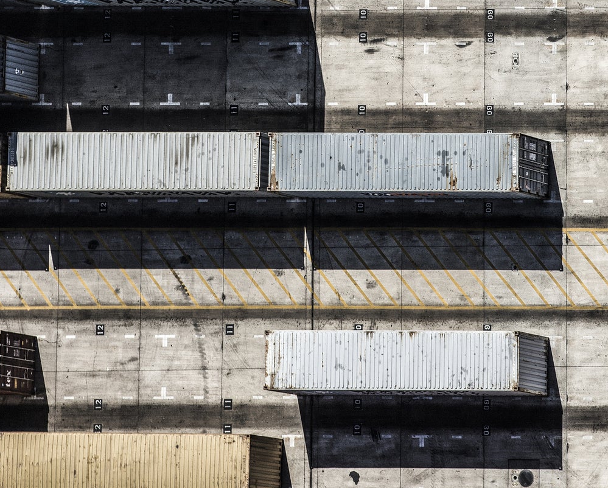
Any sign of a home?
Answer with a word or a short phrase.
No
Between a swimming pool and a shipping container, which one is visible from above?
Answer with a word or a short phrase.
shipping container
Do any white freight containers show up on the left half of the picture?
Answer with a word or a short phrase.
Yes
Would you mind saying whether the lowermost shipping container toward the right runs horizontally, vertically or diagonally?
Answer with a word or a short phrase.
horizontally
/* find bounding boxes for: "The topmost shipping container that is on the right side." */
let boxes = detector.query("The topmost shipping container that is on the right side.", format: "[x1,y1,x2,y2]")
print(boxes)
[267,133,548,199]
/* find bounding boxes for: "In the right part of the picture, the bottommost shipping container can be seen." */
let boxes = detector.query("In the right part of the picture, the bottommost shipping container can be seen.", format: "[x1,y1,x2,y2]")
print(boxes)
[262,329,548,395]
